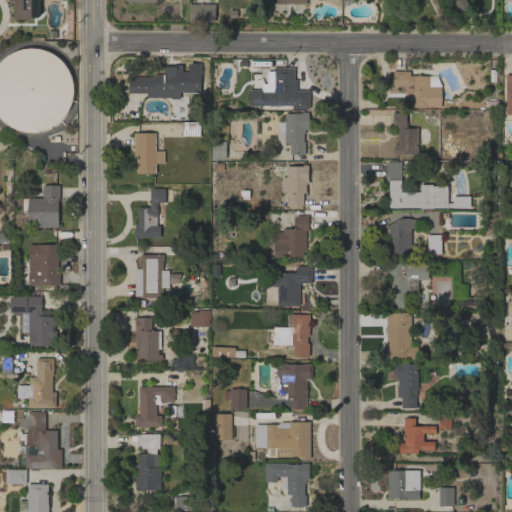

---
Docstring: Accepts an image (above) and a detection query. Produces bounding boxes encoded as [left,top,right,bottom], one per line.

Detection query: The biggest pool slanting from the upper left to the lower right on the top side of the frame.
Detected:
[440,68,460,92]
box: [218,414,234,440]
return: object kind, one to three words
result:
building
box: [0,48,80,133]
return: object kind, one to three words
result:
water tank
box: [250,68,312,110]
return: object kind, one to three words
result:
house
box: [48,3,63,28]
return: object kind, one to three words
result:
swimming pool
